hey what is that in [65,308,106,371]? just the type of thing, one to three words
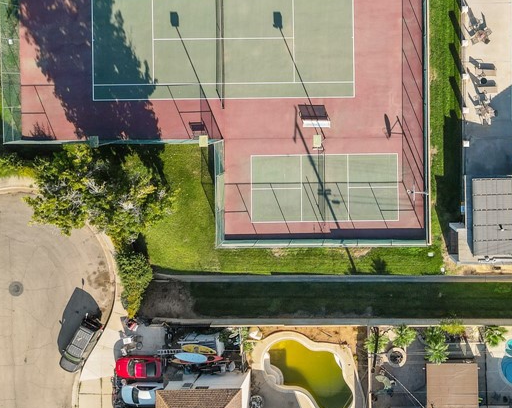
car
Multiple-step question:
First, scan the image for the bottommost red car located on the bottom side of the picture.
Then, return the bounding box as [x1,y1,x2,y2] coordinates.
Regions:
[115,355,165,382]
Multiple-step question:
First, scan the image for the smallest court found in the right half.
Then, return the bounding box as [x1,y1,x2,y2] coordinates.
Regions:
[250,151,399,228]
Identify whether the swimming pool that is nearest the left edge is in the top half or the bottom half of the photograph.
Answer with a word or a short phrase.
bottom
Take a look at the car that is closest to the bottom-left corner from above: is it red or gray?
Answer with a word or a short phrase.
gray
